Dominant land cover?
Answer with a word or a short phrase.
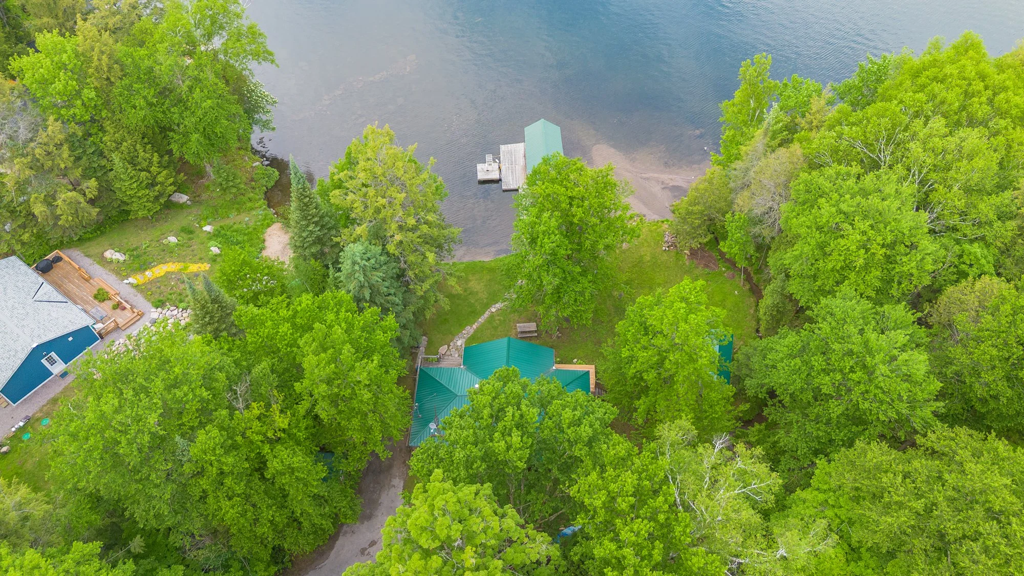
trees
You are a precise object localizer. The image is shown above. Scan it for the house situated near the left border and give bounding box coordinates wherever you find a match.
[0,255,100,405]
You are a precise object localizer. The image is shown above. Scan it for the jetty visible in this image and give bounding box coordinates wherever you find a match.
[498,144,525,195]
